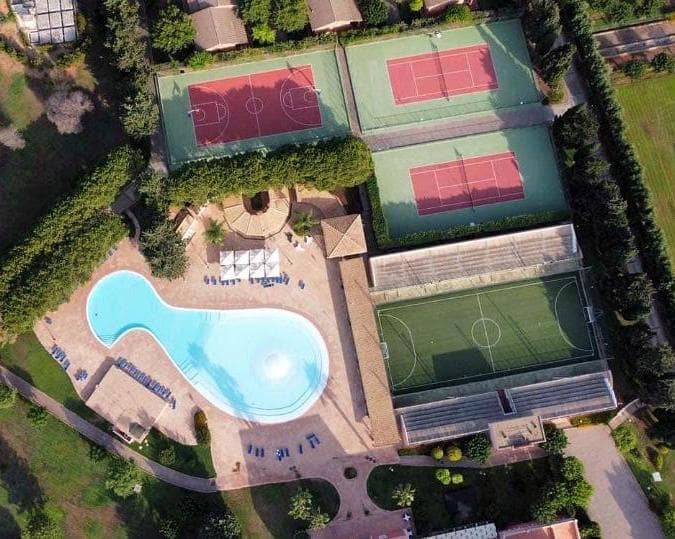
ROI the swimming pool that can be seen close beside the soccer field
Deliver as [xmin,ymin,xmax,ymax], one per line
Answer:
[85,269,331,426]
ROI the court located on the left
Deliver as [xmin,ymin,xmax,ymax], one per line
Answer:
[156,49,351,167]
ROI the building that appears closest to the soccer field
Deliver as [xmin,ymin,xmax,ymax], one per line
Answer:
[339,256,399,446]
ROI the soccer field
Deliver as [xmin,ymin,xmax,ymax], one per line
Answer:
[373,270,601,397]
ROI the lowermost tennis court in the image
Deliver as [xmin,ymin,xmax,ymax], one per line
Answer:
[372,121,571,247]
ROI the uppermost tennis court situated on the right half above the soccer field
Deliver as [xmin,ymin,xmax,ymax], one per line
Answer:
[345,18,543,133]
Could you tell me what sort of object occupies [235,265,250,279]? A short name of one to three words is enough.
umbrella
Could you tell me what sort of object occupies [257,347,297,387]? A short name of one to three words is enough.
fountain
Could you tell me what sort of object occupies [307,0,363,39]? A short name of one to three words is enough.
house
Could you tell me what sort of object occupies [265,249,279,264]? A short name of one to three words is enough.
umbrella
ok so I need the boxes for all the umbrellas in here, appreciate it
[235,265,250,279]
[265,249,279,264]
[220,251,235,266]
[235,250,250,265]
[266,264,280,278]
[250,264,265,279]
[250,250,264,264]
[221,266,235,280]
